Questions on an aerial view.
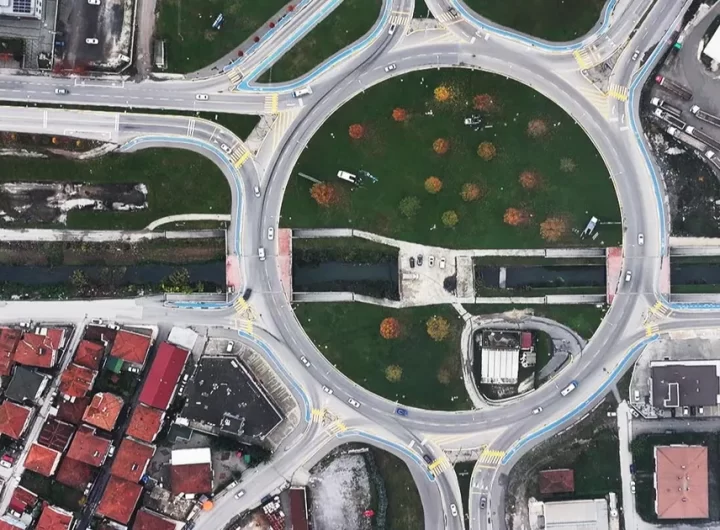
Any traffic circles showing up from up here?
Yes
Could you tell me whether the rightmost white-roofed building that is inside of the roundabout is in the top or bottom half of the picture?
bottom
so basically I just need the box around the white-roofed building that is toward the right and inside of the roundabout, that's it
[480,349,518,387]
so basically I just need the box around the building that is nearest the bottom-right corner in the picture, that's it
[651,444,708,519]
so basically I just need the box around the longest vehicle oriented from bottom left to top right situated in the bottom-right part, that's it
[560,382,579,396]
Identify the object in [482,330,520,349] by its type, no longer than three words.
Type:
building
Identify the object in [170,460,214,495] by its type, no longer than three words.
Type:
house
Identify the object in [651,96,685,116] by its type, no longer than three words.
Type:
vehicle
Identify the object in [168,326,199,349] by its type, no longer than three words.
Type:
building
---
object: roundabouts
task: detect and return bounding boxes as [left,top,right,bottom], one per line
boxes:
[238,14,661,460]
